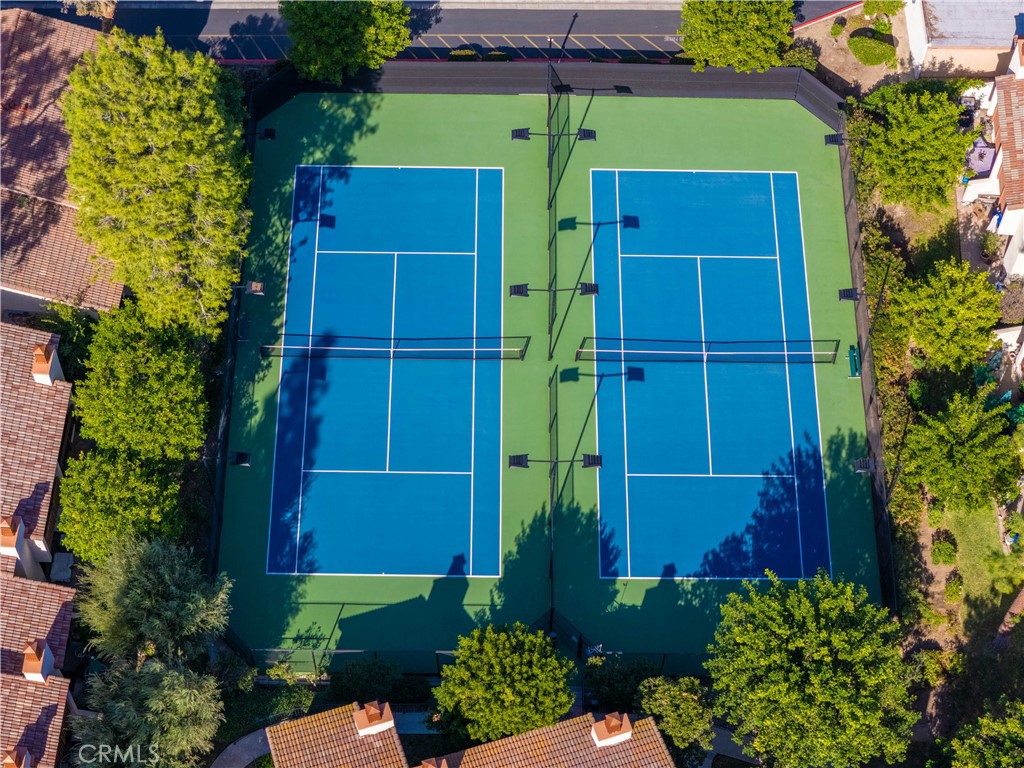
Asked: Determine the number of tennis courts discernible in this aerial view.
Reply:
2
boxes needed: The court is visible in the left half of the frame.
[217,93,551,673]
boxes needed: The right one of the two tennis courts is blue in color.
[547,95,884,676]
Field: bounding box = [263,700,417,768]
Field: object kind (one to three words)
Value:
house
